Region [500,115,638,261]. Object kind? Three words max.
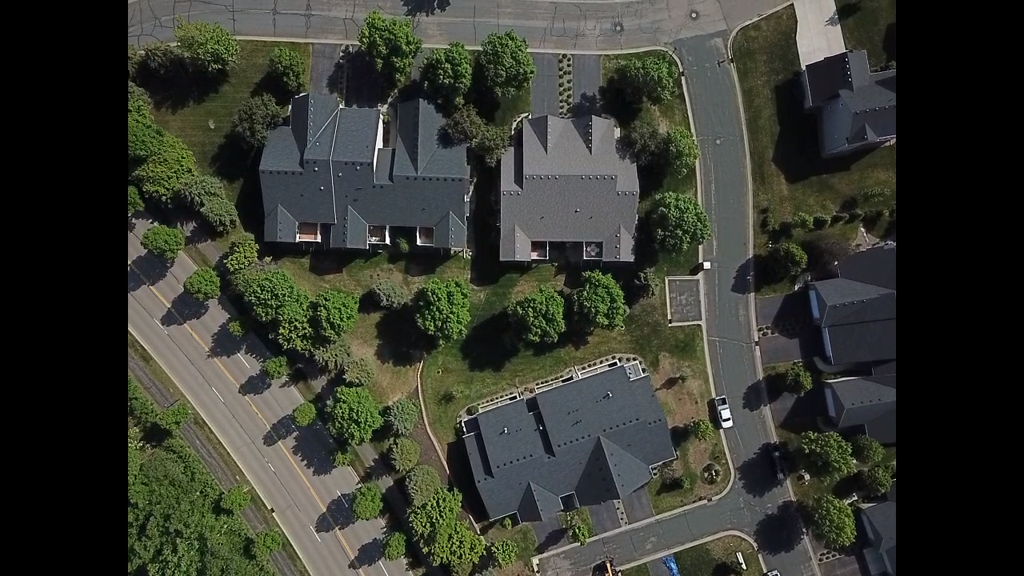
house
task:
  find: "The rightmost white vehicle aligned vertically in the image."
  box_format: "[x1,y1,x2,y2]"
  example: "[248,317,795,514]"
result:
[717,396,735,431]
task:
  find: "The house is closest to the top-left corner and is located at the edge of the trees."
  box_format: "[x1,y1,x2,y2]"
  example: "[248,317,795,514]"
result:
[260,94,469,249]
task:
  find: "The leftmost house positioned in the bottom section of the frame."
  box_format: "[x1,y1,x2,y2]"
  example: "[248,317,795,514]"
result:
[462,359,676,523]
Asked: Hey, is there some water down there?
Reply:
No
